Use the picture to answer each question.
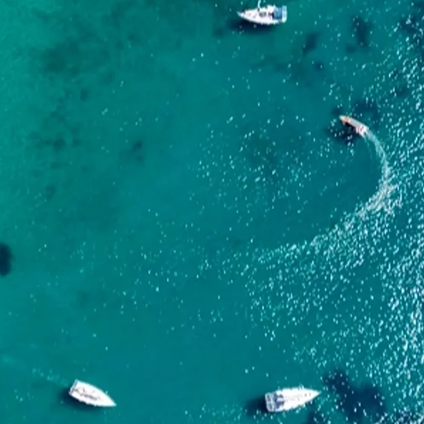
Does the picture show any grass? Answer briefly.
No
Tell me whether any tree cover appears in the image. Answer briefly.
No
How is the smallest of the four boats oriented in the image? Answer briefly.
on a diagonal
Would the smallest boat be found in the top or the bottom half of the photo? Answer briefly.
top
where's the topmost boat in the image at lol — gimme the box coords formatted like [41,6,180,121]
[238,0,290,22]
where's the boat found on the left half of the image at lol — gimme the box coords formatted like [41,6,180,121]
[66,382,117,408]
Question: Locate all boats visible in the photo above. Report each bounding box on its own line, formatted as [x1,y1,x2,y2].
[259,385,320,412]
[340,116,369,138]
[238,0,290,22]
[66,382,117,408]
